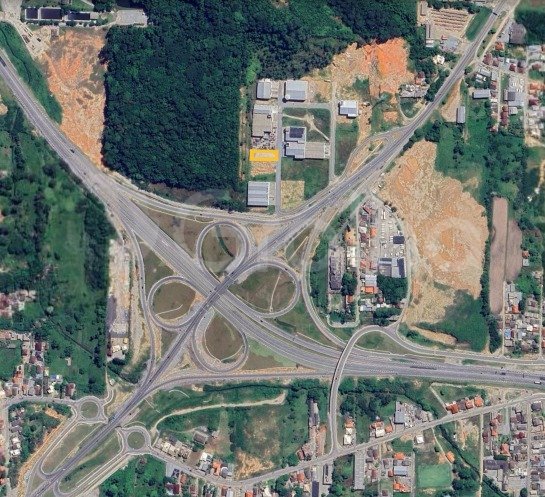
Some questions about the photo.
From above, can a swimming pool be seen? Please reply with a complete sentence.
No, no swimming pool is visible in the view.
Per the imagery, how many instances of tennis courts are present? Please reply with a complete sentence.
There are no tennis courts in the image.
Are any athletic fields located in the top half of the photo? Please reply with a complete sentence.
No, looking in the top half of the photo, there is no athletic field.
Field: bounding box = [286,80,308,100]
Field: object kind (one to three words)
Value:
building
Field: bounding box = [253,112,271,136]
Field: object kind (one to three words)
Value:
building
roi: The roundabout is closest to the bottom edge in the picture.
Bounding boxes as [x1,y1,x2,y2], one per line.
[122,426,151,454]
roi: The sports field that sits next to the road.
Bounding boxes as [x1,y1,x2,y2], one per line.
[417,463,452,490]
